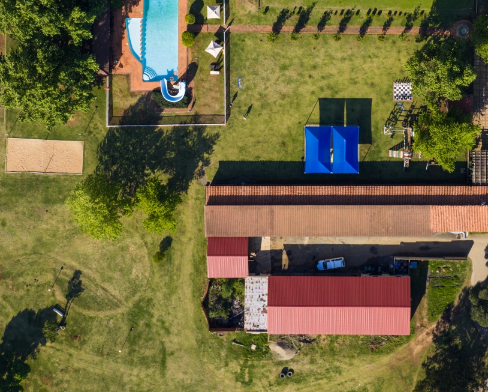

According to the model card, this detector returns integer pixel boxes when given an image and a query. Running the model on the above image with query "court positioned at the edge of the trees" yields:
[6,139,83,177]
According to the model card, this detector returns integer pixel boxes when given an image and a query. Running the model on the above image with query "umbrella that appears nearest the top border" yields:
[207,6,222,19]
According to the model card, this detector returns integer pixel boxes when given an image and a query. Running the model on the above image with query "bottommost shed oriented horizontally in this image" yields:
[269,271,410,336]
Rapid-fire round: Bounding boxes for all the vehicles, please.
[317,258,345,270]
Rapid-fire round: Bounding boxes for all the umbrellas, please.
[207,6,222,19]
[205,41,224,59]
